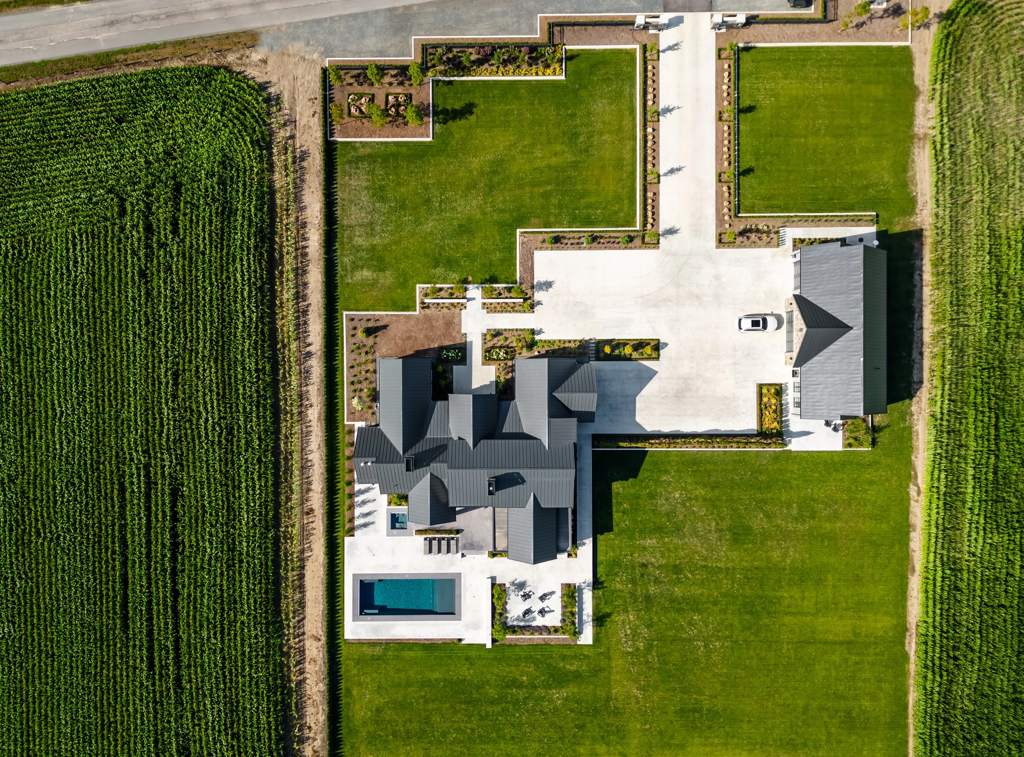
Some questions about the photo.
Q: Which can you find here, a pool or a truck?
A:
pool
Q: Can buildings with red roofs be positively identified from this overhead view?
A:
No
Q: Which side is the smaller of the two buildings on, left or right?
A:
right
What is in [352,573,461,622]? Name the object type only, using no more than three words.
swimming pool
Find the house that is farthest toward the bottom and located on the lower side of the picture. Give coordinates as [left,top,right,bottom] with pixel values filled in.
[353,358,597,564]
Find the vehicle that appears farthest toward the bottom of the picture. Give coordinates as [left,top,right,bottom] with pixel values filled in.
[737,315,779,334]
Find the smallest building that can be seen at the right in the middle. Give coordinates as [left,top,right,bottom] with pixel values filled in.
[783,242,888,420]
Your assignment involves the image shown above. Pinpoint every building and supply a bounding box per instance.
[353,358,597,564]
[783,242,888,420]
